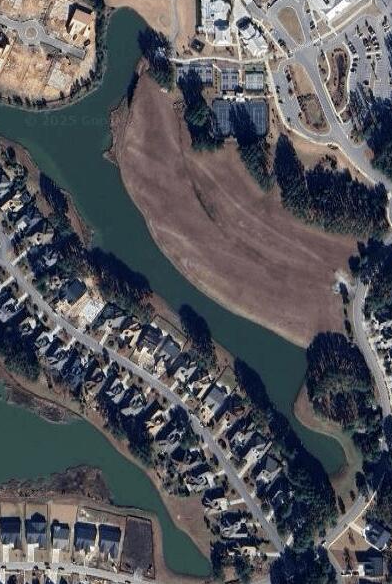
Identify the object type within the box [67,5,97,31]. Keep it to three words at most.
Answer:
house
